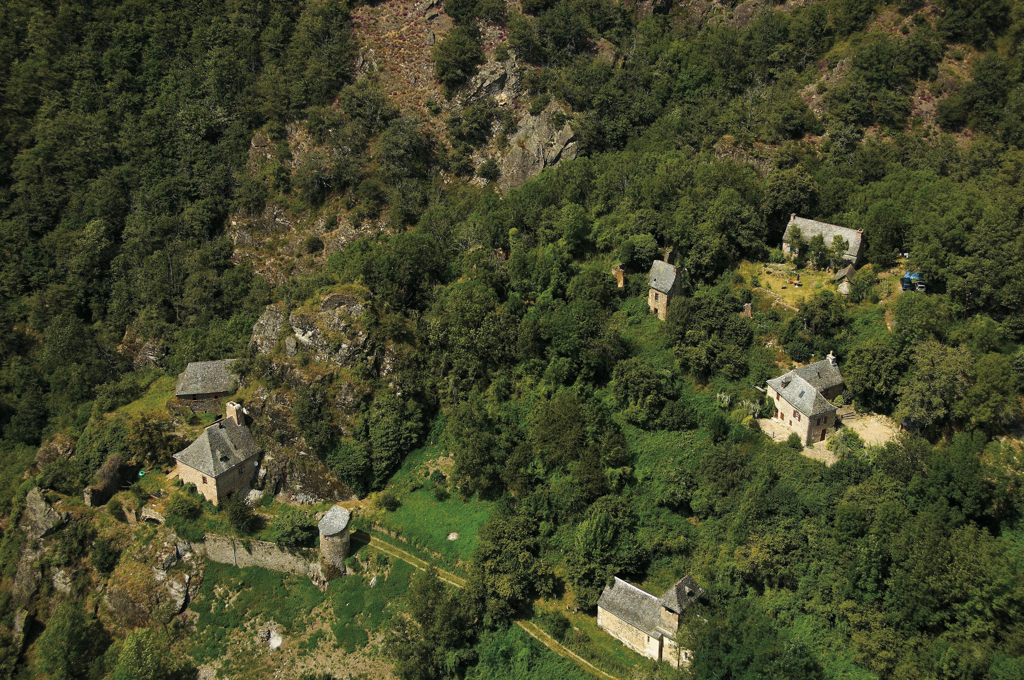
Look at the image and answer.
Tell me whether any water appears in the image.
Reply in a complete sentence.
No, there is no water in the image.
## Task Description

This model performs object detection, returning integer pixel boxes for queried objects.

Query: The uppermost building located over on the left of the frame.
[166,359,233,412]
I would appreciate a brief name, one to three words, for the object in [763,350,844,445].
house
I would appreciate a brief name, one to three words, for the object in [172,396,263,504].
house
